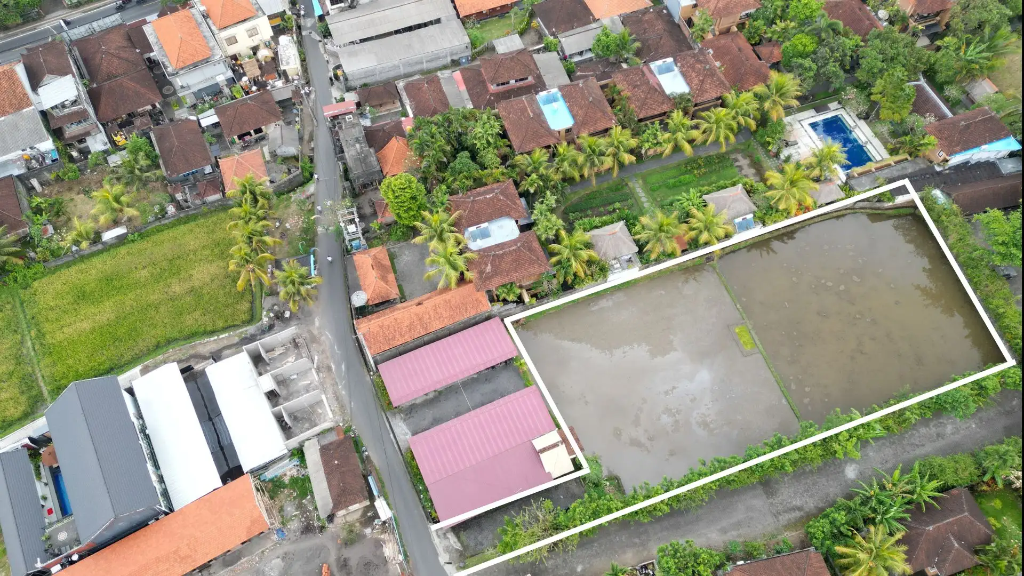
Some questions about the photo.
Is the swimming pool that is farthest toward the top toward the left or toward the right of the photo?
right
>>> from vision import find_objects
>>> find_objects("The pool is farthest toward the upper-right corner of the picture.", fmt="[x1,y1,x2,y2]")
[781,103,893,181]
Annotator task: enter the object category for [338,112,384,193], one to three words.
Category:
house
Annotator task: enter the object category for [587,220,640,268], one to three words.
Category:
shed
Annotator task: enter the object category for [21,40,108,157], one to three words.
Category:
house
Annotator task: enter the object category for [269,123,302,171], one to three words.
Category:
shed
